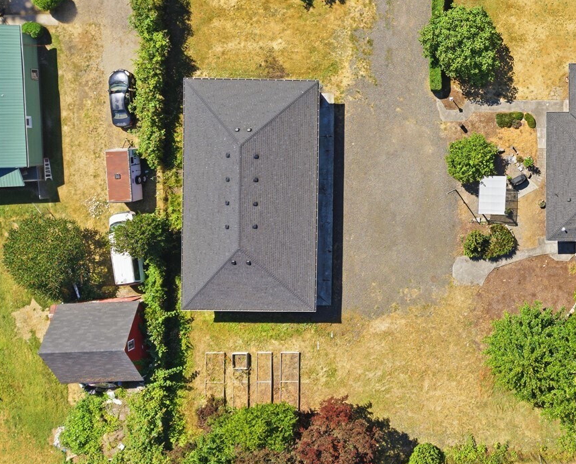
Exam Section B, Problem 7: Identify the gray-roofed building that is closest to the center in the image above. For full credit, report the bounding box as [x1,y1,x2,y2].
[180,77,322,314]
